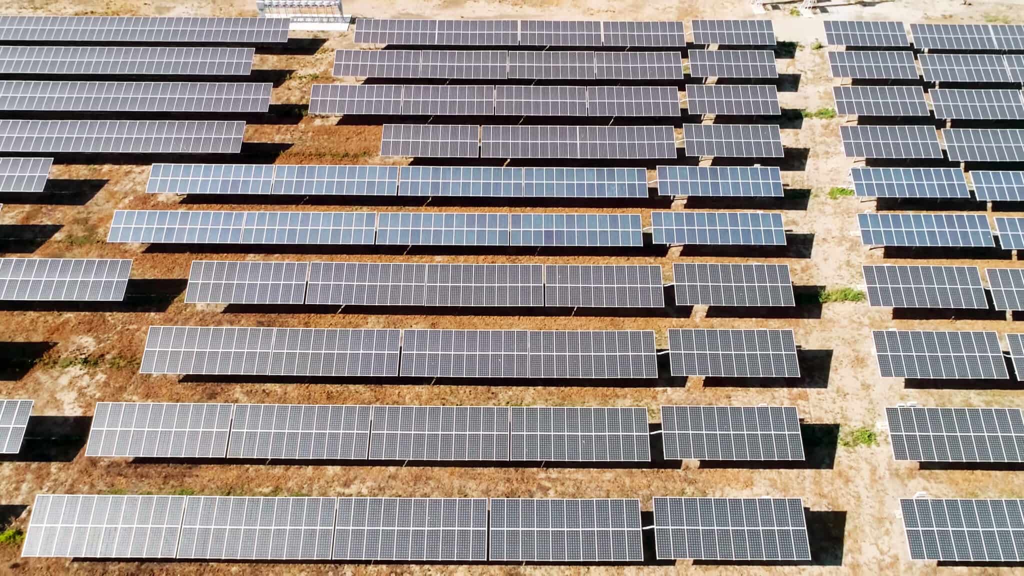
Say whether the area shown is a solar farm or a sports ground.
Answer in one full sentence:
This image shows a solar farm.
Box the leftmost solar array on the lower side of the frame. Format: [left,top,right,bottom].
[0,400,34,454]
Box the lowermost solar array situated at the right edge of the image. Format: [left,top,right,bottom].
[899,498,1024,562]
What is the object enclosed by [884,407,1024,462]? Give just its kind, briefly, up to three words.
solar array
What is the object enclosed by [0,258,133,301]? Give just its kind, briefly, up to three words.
solar array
